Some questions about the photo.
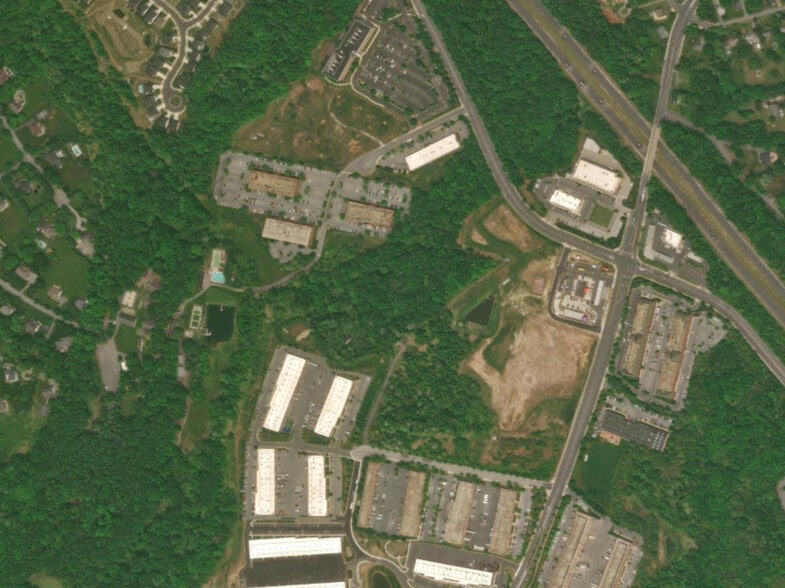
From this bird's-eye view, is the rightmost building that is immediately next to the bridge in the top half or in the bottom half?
top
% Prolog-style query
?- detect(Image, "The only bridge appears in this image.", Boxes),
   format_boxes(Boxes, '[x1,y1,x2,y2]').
[641,127,662,176]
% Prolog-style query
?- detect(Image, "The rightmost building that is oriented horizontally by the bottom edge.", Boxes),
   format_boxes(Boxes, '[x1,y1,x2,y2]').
[414,559,493,586]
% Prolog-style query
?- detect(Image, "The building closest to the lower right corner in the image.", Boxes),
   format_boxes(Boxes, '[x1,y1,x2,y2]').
[596,538,633,588]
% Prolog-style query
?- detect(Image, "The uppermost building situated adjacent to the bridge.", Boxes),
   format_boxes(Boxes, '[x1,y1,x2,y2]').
[573,159,622,192]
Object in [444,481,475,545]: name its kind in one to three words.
building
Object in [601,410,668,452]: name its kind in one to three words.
building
